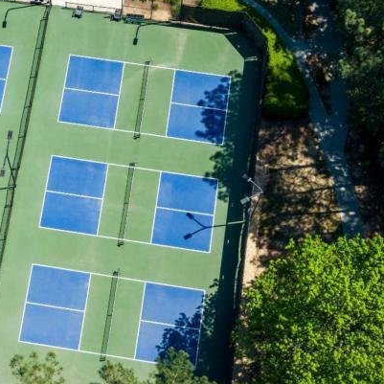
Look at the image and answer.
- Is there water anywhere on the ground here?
No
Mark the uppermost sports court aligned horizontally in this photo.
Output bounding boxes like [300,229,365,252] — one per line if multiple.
[60,55,231,145]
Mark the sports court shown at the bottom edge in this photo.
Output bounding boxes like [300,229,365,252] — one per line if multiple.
[19,264,204,368]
